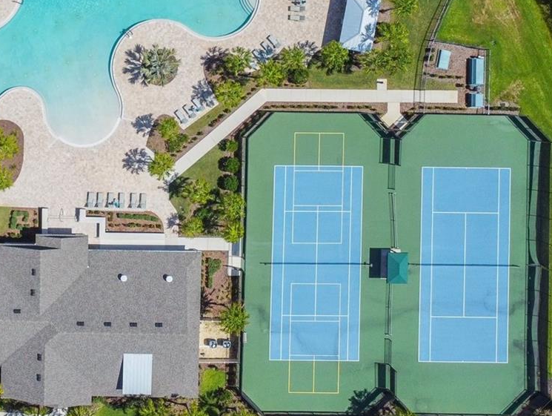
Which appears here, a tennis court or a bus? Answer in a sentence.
The image shows a tennis court.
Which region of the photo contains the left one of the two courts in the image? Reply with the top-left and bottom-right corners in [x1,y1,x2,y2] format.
[238,112,392,413]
